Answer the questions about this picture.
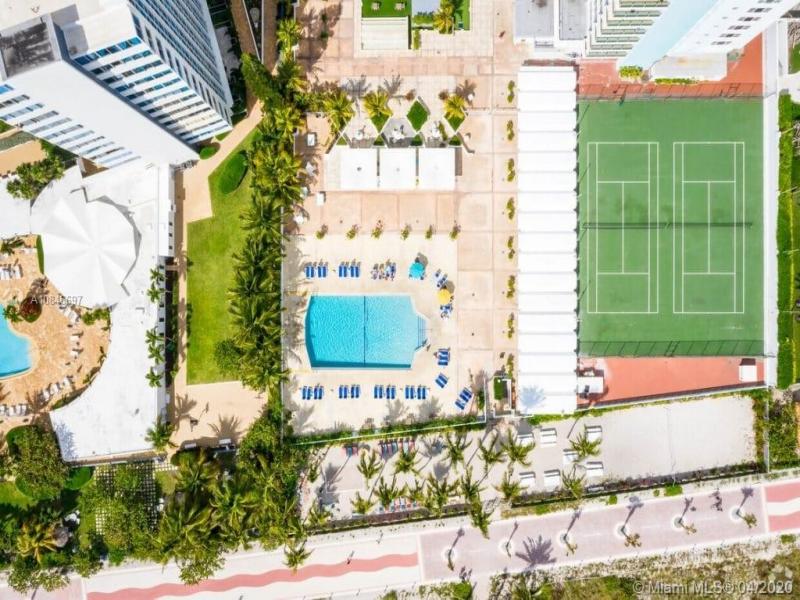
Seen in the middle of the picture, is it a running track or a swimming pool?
swimming pool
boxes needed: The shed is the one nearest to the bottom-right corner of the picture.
[578,377,605,394]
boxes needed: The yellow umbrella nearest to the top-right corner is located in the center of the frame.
[438,290,451,304]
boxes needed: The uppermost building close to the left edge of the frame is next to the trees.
[0,0,232,170]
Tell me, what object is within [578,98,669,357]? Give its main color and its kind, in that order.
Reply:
green tennis court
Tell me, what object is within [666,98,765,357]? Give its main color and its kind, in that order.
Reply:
green tennis court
